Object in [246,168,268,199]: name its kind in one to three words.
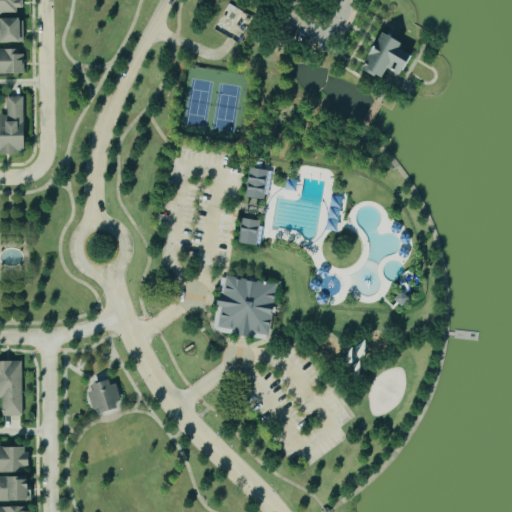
building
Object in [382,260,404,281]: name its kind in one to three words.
swimming pool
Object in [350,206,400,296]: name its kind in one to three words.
swimming pool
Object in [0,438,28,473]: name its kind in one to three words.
house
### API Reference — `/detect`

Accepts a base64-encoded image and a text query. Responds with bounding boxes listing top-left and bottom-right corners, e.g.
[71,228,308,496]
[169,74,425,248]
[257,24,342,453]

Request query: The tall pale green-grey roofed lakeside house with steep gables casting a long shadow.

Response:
[362,31,412,76]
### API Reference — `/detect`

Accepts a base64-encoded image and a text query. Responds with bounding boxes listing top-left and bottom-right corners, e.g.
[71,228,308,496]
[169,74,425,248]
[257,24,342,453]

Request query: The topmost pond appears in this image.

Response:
[297,64,374,116]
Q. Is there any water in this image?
Yes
